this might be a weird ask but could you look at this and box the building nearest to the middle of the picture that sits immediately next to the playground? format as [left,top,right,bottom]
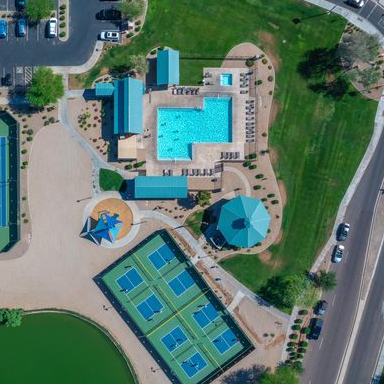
[135,176,189,198]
